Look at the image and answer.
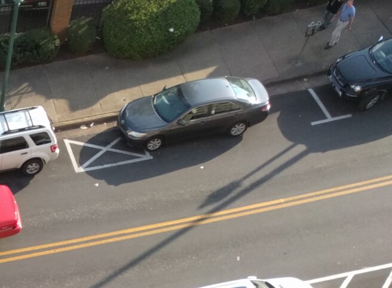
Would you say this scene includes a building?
No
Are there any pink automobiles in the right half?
No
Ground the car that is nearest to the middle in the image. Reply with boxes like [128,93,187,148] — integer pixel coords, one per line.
[116,74,274,150]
